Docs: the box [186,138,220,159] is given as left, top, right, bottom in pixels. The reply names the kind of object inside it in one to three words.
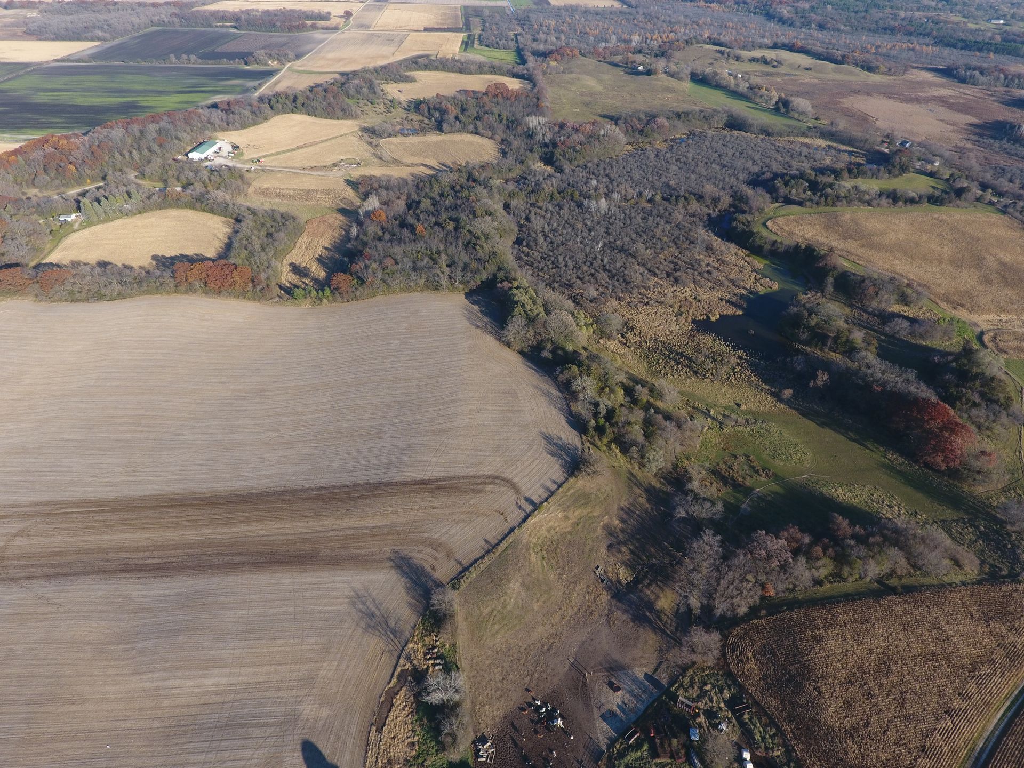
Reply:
shed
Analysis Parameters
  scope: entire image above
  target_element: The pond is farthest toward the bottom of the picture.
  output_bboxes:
[694,212,811,356]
